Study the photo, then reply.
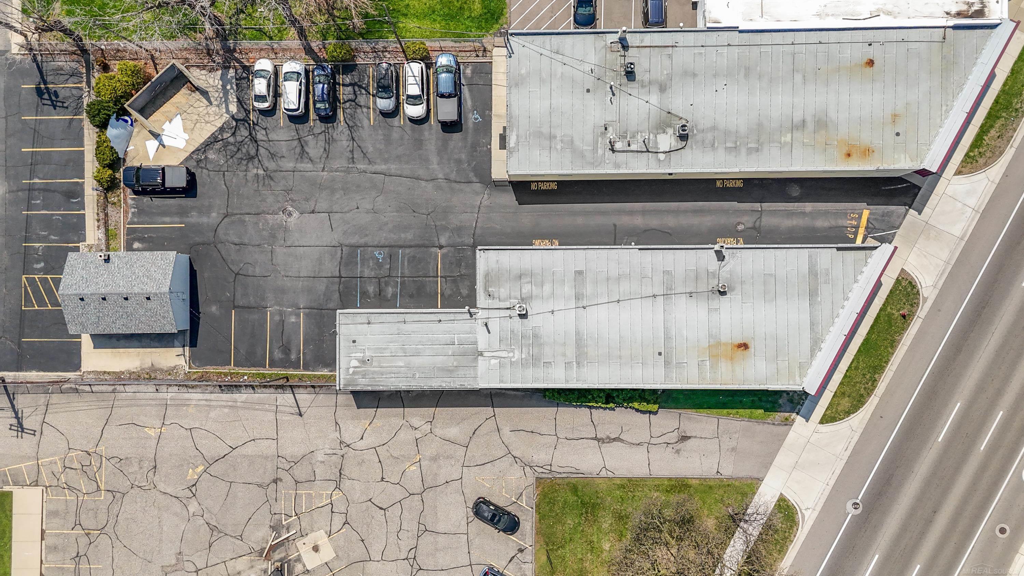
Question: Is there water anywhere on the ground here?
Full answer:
No, water can't be seen anywhere here.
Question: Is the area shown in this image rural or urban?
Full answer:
From above, the setting appears urban.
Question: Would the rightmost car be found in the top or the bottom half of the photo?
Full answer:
You can find the rightmost car in the top half.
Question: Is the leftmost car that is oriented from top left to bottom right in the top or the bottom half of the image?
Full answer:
It is in the bottom half that the leftmost car that is oriented from top left to bottom right appears.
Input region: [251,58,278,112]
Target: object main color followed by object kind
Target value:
white car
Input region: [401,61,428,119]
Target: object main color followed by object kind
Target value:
white car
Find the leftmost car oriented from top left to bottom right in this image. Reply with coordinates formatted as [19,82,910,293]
[469,494,521,535]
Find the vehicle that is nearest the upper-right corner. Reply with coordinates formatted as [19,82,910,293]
[641,0,666,28]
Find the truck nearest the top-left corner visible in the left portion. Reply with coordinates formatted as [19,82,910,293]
[124,165,193,192]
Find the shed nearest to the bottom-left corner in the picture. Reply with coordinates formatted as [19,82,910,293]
[58,251,189,335]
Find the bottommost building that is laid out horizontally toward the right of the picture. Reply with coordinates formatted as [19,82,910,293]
[337,242,897,396]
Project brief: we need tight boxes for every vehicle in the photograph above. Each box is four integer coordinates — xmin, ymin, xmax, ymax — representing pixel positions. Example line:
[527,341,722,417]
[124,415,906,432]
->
[469,494,521,535]
[373,60,398,114]
[124,165,193,192]
[434,57,460,125]
[280,62,307,117]
[401,61,428,119]
[251,58,278,112]
[477,564,508,576]
[311,64,336,119]
[573,0,597,28]
[641,0,666,28]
